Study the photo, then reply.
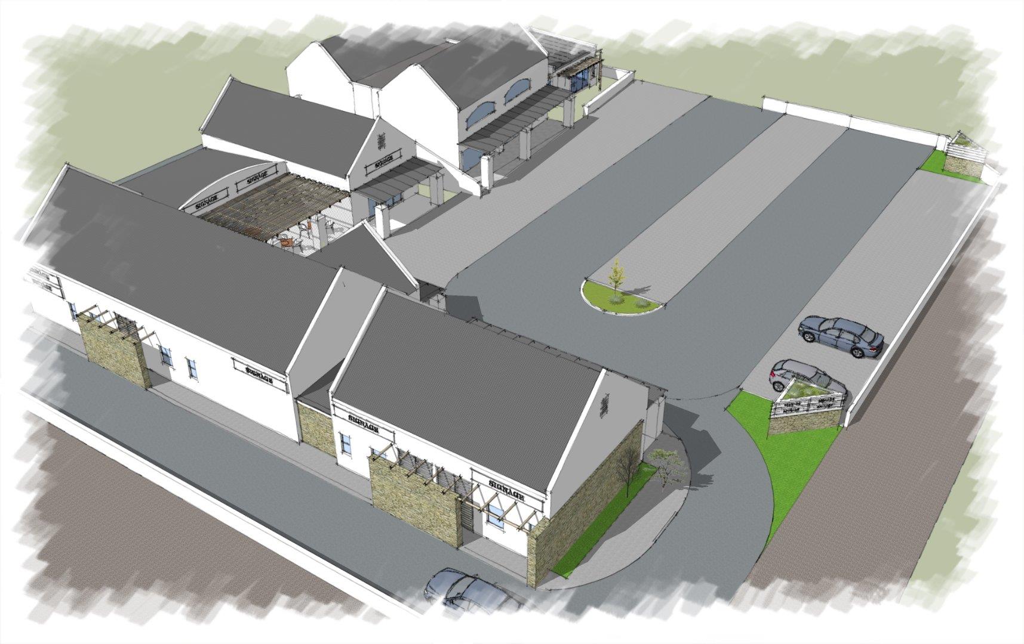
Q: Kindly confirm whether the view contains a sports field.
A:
No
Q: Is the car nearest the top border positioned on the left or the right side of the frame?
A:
right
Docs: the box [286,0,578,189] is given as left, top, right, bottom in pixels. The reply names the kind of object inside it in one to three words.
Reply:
building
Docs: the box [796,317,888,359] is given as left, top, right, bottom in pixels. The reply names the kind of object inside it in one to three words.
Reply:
car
